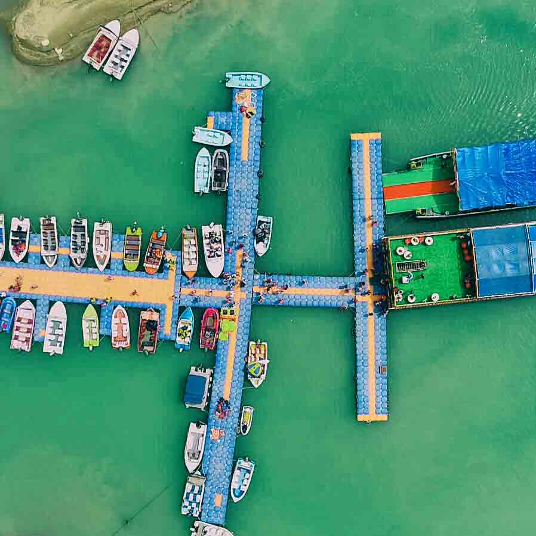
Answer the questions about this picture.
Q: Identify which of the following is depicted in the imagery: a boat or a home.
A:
boat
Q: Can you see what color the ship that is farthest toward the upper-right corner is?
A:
blue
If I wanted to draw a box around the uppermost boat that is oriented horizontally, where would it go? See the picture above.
[222,72,271,88]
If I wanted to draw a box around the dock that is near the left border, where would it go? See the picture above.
[0,233,181,342]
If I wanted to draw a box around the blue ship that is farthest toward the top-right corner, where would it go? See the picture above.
[382,135,536,217]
